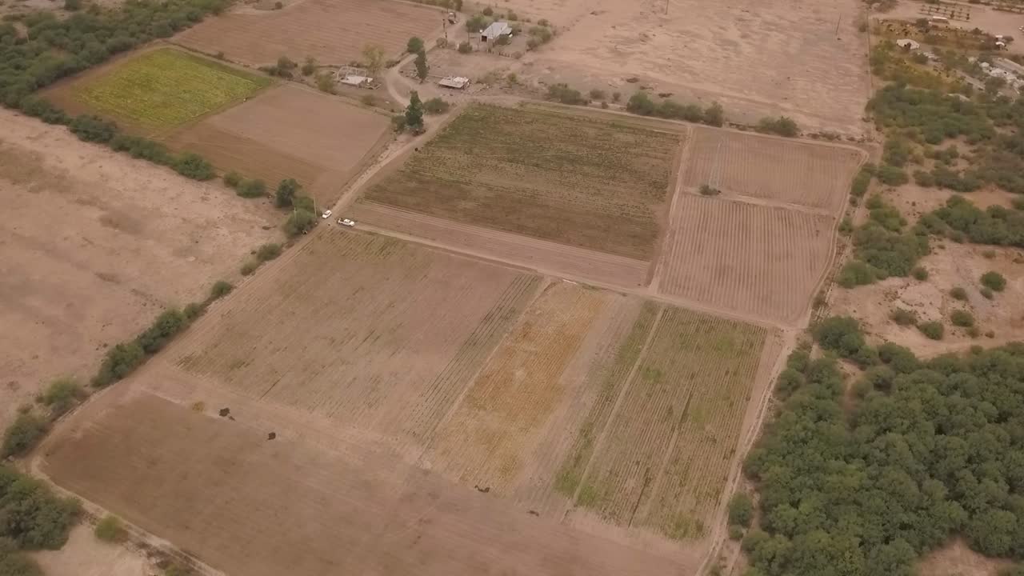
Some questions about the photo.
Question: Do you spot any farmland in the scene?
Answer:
Yes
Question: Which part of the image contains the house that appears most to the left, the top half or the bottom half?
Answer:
top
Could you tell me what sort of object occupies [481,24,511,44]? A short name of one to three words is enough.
shed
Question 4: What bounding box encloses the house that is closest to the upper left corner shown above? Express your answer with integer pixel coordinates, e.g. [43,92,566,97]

[337,66,378,87]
